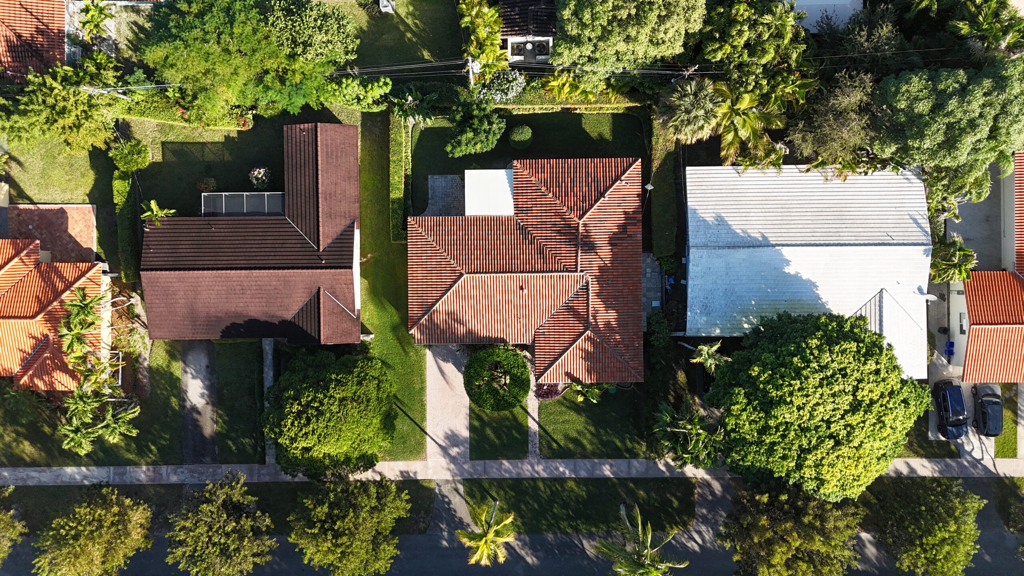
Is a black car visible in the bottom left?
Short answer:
No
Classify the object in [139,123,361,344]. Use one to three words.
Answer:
house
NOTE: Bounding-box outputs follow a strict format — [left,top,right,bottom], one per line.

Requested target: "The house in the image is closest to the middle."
[407,157,645,383]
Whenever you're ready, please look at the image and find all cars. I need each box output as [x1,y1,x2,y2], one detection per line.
[975,383,1007,435]
[938,379,974,437]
